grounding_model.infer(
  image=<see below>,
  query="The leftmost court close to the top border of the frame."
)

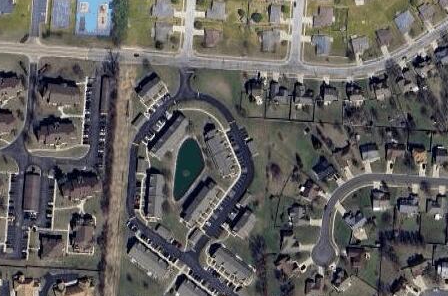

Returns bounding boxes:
[52,0,71,28]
